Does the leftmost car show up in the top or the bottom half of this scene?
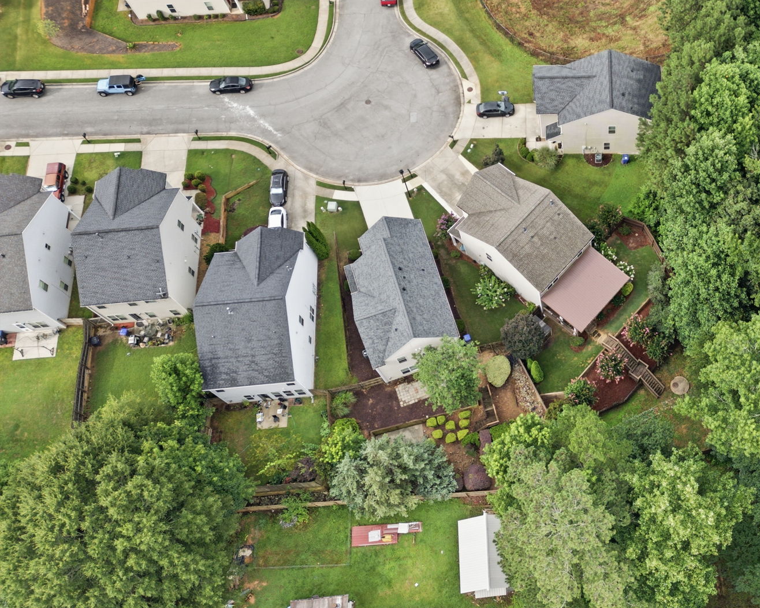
top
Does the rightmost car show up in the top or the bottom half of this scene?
top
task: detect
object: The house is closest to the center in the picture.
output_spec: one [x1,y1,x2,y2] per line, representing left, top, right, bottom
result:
[343,212,459,384]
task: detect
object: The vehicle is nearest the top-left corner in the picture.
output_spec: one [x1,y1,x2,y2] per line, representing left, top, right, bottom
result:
[0,75,43,97]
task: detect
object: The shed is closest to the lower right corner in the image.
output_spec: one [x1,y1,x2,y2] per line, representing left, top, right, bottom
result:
[459,510,513,599]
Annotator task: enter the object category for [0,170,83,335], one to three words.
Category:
house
